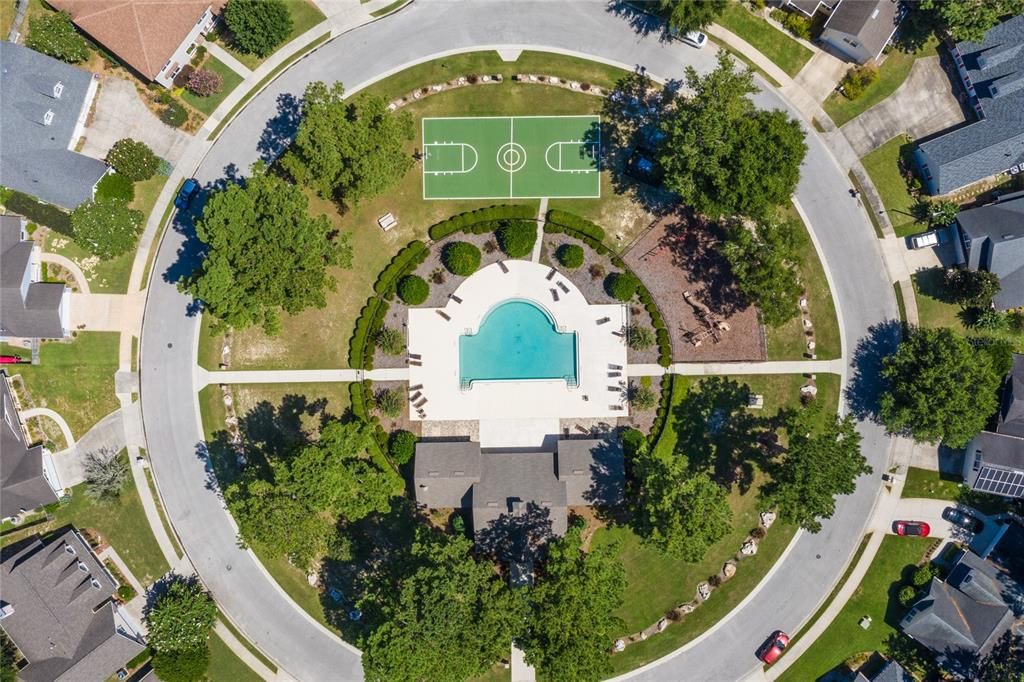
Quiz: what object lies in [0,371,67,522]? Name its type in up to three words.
house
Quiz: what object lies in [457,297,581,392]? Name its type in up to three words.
swimming pool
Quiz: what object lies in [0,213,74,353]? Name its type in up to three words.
house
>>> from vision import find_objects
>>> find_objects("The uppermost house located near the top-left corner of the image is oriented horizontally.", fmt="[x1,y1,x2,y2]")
[49,0,228,85]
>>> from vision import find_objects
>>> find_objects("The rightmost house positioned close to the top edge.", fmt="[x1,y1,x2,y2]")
[912,15,1024,195]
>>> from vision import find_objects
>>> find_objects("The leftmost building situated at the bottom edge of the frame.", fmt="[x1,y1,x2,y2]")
[0,530,148,682]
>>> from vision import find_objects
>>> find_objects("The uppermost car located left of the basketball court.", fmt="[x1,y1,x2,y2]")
[173,177,201,212]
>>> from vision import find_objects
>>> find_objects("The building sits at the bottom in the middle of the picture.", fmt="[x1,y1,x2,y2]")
[413,440,626,552]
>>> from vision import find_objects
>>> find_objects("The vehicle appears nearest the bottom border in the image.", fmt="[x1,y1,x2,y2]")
[759,631,791,665]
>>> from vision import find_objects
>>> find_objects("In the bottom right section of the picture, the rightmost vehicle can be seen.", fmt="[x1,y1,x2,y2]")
[941,505,984,534]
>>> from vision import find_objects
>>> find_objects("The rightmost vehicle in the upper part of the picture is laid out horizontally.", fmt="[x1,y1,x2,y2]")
[908,228,949,251]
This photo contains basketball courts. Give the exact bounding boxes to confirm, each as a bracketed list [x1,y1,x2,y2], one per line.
[422,115,601,200]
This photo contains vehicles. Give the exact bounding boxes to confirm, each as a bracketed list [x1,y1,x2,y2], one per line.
[941,505,984,534]
[672,29,711,51]
[908,228,949,251]
[173,177,201,212]
[895,519,931,538]
[759,631,791,665]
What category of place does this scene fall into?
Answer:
residential area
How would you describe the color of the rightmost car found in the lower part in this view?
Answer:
black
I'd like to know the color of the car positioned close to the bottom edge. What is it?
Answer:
red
